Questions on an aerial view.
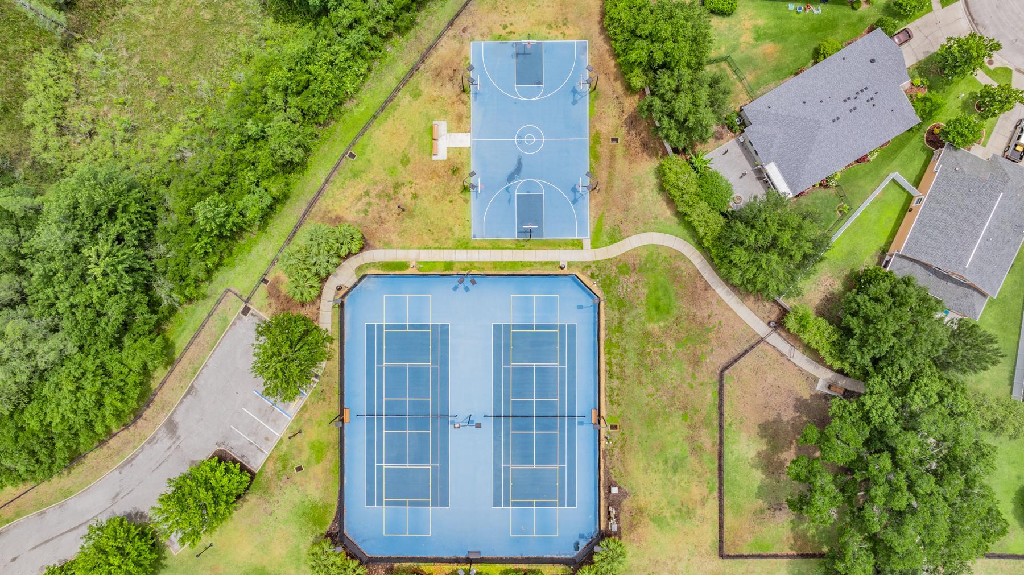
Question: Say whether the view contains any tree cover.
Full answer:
Yes, some tree cover is visible.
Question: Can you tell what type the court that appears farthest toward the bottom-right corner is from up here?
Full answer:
The court that appears farthest toward the bottom-right corner in the image is a tennis court.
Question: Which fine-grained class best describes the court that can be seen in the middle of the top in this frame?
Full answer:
The court that can be seen in the middle of the top in the image is a basketball court.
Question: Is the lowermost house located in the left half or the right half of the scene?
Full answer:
The lowermost house appears in the right half of the scene.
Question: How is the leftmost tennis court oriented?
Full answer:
In this picture, the leftmost tennis court is oriented up and down.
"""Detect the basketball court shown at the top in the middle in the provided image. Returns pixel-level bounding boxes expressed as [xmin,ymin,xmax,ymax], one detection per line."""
[471,40,590,240]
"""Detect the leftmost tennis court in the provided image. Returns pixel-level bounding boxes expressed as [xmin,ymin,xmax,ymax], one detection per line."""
[365,295,450,536]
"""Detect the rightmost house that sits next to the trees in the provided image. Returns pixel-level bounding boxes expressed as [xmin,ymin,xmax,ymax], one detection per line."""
[872,141,1024,320]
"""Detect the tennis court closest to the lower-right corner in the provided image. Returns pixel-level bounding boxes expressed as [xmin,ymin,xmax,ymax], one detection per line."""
[492,295,577,536]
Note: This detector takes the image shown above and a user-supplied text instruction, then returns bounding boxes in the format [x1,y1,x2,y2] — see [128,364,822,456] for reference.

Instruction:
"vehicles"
[1006,117,1024,163]
[893,25,920,49]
